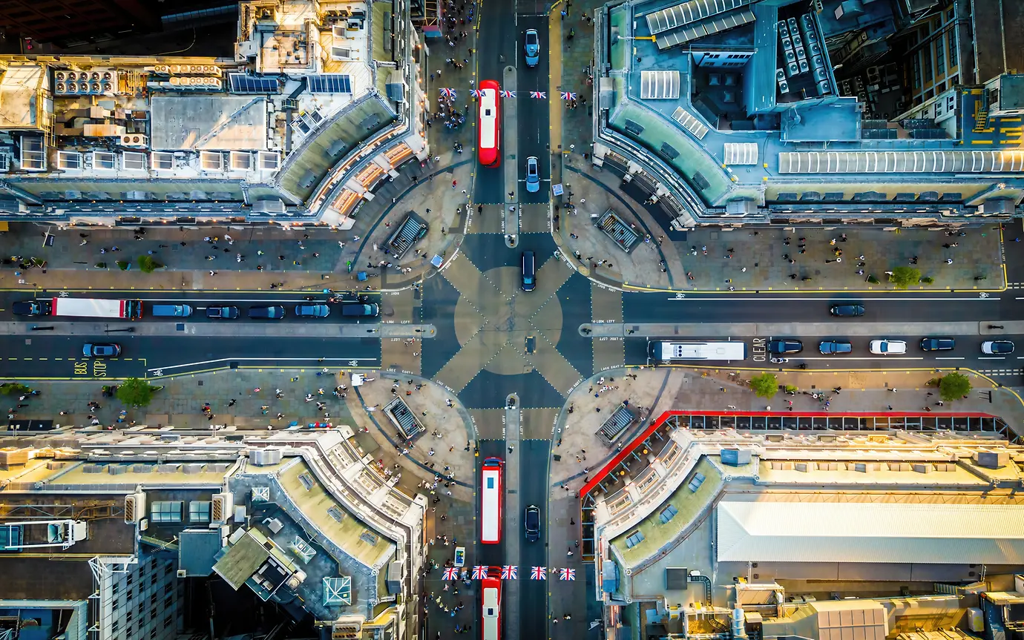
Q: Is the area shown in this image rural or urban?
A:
urban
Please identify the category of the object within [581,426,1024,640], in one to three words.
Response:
building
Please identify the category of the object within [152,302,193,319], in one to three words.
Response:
vehicle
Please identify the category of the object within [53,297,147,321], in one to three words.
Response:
bus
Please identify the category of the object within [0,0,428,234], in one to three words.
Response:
building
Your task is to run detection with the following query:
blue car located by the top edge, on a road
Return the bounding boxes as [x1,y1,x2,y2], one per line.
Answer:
[523,32,539,67]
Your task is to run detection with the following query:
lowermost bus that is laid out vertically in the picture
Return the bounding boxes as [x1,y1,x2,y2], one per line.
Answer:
[479,568,503,640]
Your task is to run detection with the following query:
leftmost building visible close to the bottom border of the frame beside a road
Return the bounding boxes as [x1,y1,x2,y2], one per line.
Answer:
[0,425,426,640]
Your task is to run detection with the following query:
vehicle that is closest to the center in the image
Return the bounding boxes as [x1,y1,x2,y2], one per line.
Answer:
[519,252,537,290]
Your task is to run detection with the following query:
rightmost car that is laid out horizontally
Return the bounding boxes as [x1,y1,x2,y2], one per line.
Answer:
[977,339,1012,355]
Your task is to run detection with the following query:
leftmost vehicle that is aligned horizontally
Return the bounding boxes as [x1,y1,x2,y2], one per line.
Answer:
[16,300,53,317]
